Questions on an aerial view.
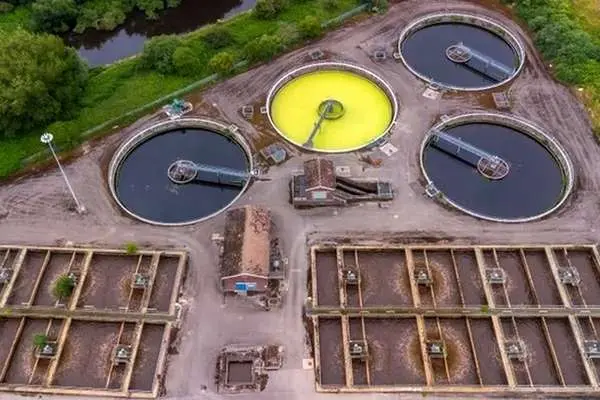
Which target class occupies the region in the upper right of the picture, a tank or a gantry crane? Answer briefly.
tank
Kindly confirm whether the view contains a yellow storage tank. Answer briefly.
Yes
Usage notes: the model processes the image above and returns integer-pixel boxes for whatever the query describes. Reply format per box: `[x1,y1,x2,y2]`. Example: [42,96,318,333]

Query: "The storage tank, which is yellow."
[266,63,397,153]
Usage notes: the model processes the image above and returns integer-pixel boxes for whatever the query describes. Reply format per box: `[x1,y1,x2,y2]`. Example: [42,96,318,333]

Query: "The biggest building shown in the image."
[219,201,286,298]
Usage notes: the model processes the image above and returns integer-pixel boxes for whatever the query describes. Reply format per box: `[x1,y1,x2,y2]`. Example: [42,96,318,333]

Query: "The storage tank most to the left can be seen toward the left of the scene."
[108,119,254,227]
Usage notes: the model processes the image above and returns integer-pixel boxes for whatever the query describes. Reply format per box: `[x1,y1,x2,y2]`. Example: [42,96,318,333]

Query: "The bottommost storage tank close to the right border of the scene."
[420,113,572,224]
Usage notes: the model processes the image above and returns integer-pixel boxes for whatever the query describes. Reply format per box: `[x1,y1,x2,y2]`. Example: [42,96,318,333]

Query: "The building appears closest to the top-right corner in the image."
[302,155,337,204]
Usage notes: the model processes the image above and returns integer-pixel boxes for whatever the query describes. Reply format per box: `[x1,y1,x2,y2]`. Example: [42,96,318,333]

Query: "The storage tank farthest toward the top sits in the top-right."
[398,14,524,93]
